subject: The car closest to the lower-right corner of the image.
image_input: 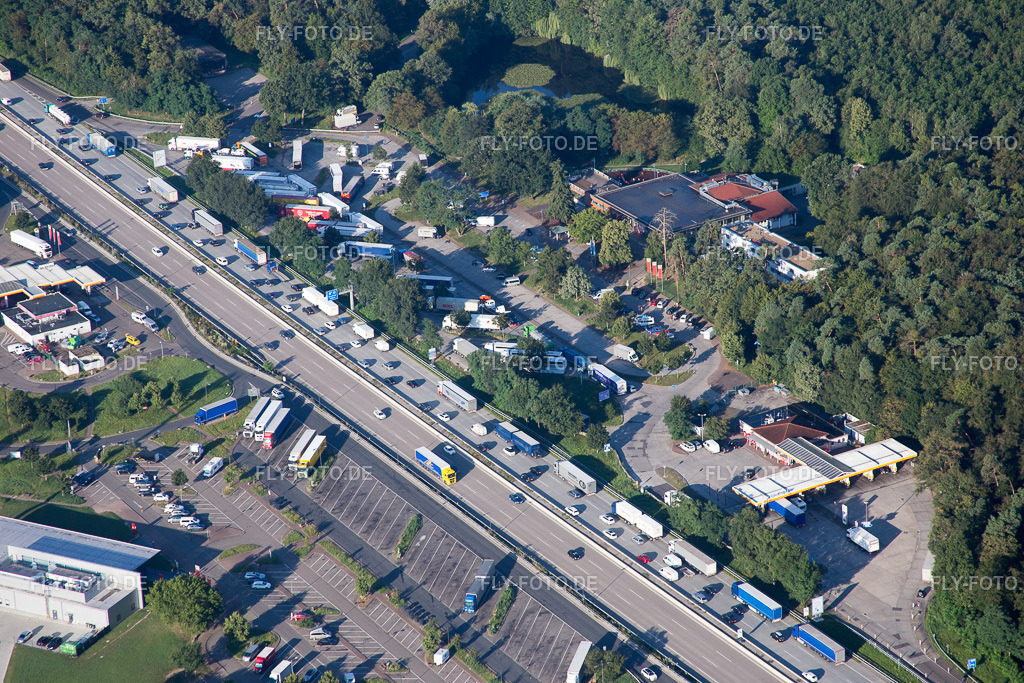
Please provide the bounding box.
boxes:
[915,587,927,599]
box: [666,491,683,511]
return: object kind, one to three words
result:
vehicle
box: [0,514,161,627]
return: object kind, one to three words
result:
building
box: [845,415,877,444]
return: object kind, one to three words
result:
shed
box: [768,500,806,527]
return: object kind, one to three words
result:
truck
